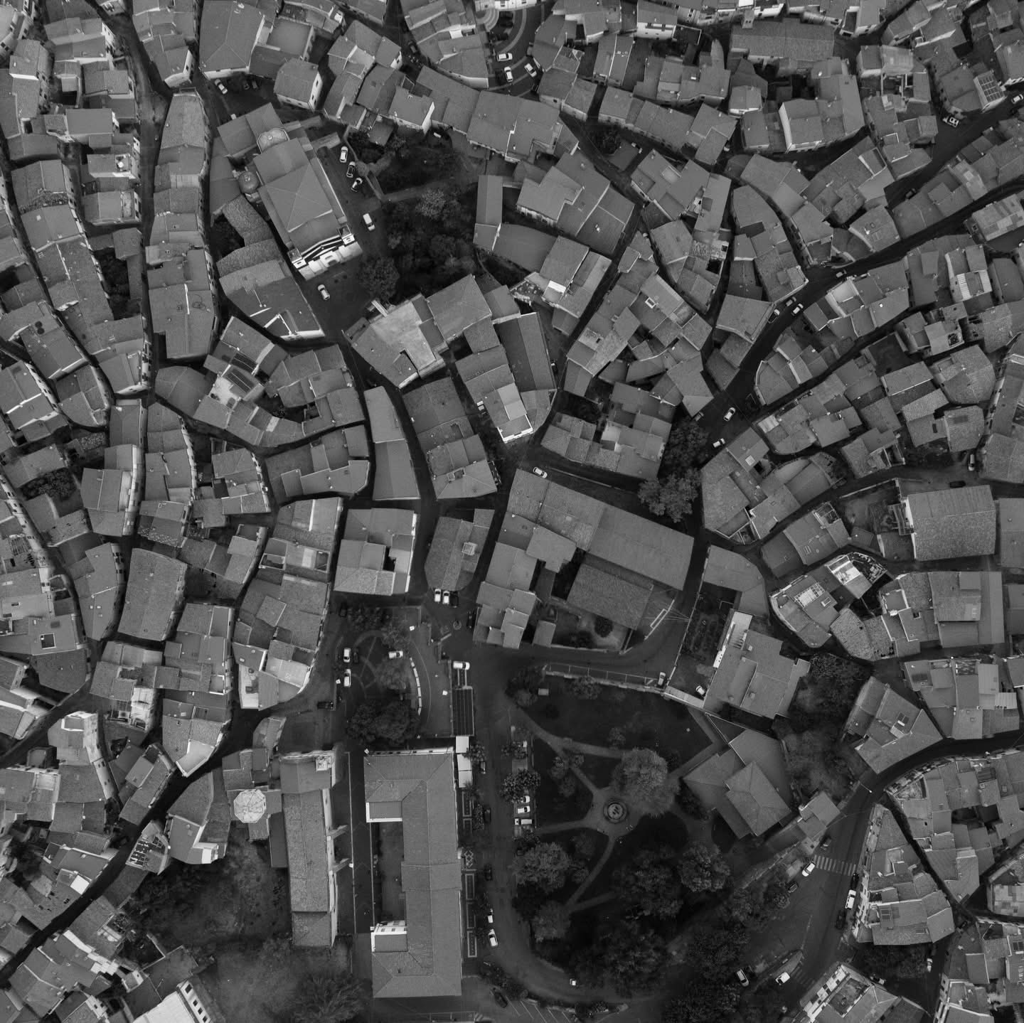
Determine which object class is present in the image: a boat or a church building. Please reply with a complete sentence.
This aerial view contains a church building.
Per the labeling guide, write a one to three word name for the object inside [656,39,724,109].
house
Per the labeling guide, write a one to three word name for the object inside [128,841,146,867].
solar panel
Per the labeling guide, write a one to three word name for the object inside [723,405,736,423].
vehicle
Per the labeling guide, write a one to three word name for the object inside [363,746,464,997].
building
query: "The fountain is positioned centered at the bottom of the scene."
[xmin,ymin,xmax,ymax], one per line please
[607,803,624,821]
